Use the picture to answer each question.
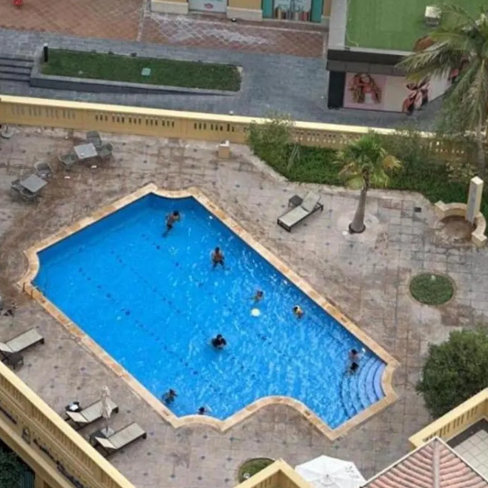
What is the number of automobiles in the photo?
0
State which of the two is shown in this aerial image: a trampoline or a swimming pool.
swimming pool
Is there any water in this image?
Yes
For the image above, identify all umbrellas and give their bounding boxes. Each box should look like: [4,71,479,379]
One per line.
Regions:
[97,384,116,435]
[293,445,369,488]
